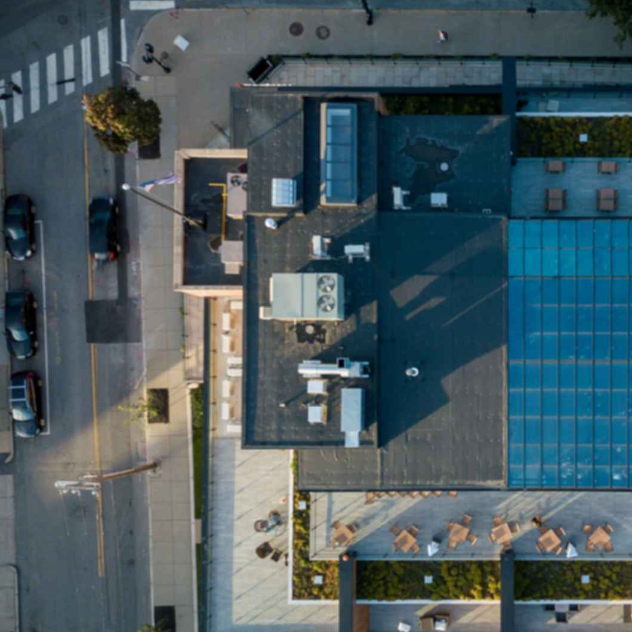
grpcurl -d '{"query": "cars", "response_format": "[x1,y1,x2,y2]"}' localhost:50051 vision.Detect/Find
[87,198,121,262]
[3,195,39,261]
[3,293,39,356]
[10,372,46,435]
